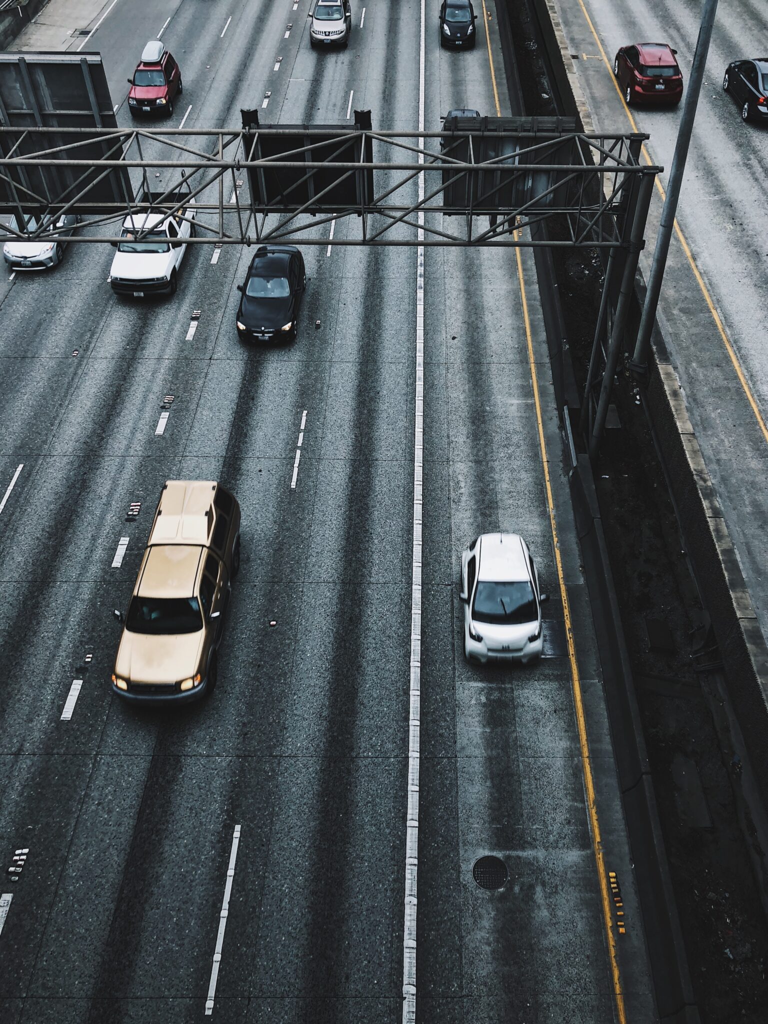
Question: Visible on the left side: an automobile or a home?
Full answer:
There is an automobile on the left side.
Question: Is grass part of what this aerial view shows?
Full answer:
No, no grass is visible.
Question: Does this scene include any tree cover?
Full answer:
No, no tree cover is visible.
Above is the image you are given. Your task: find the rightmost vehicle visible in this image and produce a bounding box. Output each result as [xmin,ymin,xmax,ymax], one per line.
[721,60,768,118]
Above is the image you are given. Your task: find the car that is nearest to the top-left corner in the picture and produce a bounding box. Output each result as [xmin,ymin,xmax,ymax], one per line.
[125,51,183,115]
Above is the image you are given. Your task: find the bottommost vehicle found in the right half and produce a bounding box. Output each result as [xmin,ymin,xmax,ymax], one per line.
[455,534,553,665]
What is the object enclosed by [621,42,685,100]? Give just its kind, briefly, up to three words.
car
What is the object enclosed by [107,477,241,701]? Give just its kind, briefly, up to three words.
truck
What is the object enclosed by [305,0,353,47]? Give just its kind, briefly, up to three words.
car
